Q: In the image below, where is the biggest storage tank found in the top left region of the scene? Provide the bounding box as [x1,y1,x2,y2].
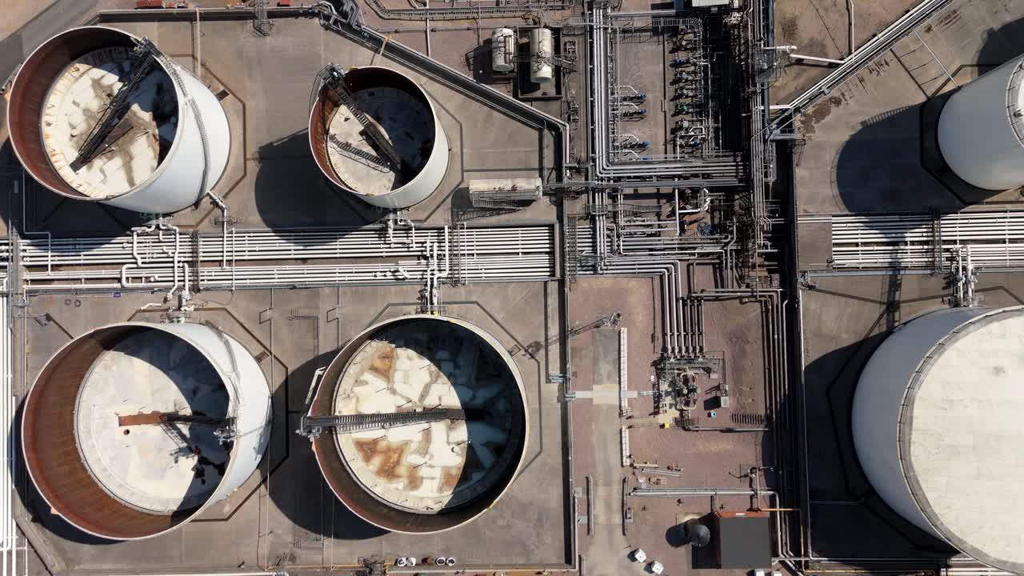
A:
[6,26,233,214]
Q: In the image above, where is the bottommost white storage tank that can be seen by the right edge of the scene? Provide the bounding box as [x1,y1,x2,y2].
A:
[849,305,1024,576]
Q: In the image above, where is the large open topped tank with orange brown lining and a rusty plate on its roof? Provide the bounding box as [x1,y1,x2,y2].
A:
[21,319,273,540]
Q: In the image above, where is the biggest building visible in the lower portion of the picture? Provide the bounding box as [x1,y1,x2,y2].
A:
[714,507,771,569]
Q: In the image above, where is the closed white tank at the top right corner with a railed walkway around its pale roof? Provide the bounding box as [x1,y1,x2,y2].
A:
[937,51,1024,191]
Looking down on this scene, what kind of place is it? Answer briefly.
industrial area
